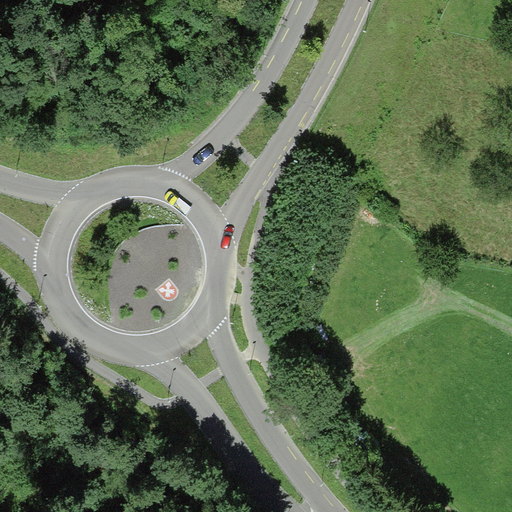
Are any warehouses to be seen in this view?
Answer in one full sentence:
No, the photo shows no warehouse.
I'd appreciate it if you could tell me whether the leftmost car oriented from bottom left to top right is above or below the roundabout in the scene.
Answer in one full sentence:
You can see the leftmost car oriented from bottom left to top right above the roundabout in the frame.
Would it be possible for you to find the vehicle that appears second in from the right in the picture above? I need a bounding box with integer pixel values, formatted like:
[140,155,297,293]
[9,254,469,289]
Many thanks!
[193,146,214,165]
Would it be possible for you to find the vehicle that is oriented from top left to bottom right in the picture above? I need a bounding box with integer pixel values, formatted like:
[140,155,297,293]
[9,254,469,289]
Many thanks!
[165,194,192,216]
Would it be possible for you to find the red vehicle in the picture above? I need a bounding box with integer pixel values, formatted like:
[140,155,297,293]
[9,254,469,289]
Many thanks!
[221,226,234,249]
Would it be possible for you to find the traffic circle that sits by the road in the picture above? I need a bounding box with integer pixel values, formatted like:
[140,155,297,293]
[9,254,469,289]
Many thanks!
[38,166,236,364]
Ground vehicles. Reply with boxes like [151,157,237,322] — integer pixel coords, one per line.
[165,194,192,216]
[221,226,234,249]
[193,146,214,165]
